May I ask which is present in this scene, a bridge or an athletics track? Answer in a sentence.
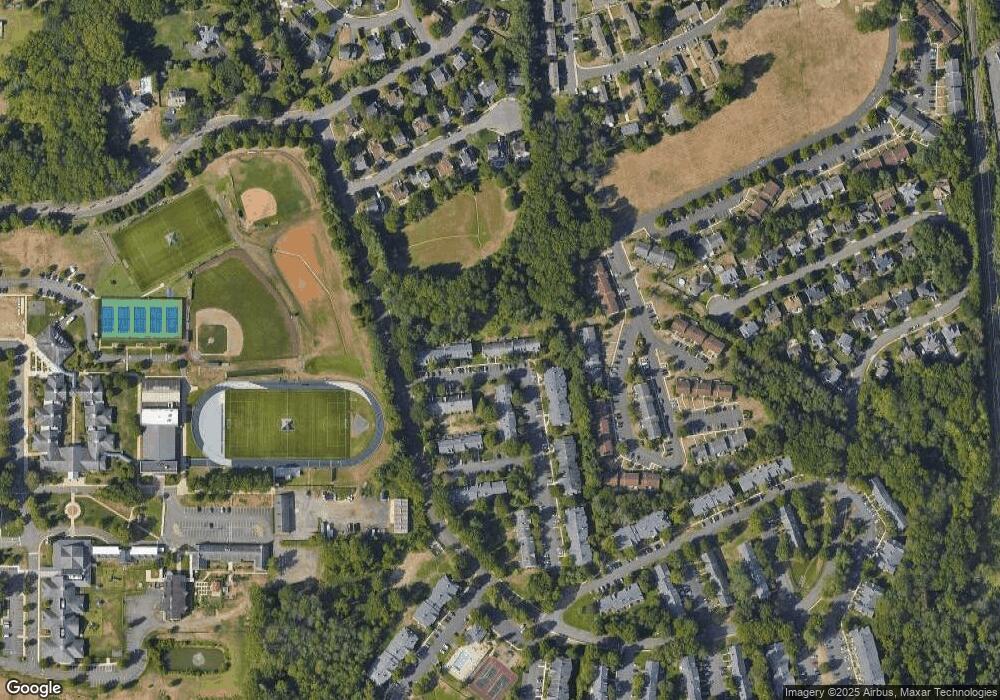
The one in the frame is an athletics track.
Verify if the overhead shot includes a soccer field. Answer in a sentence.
Yes, the image includes a soccer field.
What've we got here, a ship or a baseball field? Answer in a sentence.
Of the two, only a baseball field appears.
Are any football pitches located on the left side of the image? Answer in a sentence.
Yes, you'll find a football pitch on the left side of the image.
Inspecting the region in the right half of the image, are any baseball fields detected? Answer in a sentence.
No, there's no baseball field to be seen in the right half of the image.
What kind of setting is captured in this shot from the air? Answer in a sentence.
It's a residential area.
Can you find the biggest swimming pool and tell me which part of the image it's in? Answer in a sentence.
The biggest swimming pool is in the bottom part of the image.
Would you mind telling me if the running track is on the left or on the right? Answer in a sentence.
The running track is on the left side of the image.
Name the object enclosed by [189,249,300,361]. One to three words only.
baseball field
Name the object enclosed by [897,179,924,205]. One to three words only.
house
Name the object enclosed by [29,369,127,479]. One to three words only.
building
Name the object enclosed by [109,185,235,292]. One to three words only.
soccer field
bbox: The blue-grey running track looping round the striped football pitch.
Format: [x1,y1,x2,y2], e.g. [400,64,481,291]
[190,380,385,468]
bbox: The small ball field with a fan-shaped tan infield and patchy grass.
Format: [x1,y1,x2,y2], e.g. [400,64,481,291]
[218,151,318,228]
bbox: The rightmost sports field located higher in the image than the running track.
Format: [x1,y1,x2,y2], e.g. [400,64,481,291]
[273,223,346,351]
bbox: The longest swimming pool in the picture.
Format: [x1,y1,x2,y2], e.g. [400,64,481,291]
[445,640,492,682]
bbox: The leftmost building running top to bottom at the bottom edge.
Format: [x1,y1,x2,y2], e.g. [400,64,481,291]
[38,542,97,667]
